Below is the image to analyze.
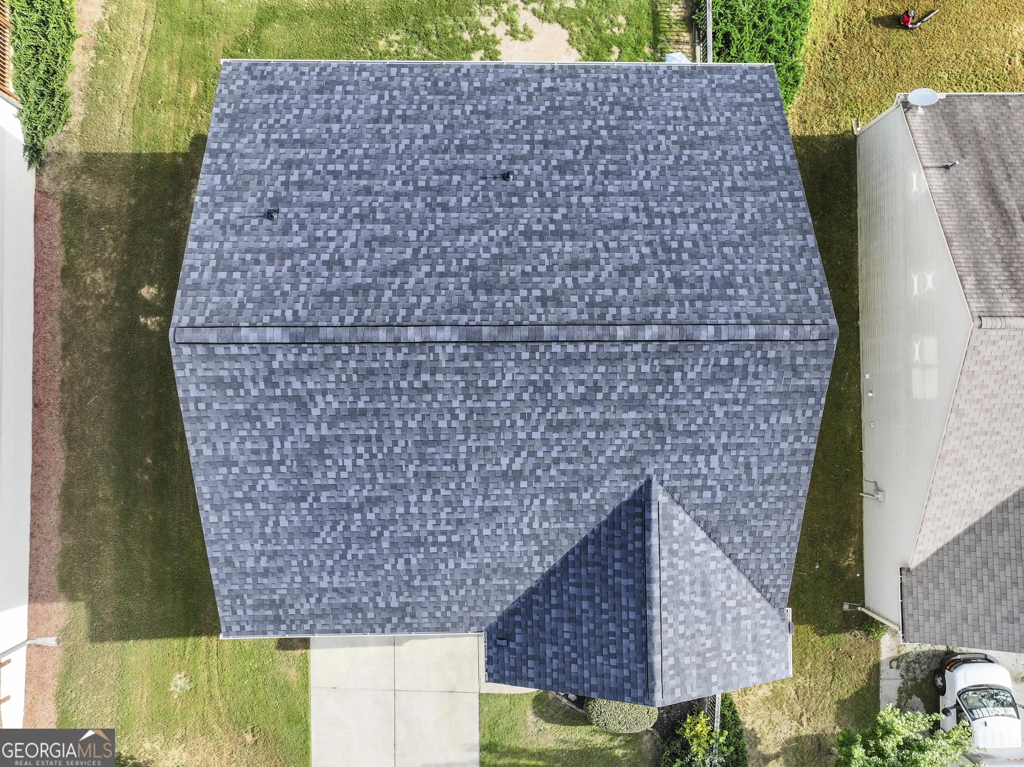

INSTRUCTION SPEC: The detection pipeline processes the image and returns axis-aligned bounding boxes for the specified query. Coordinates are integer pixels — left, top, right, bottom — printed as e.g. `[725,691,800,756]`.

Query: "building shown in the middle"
[169,56,838,709]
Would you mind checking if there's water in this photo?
No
